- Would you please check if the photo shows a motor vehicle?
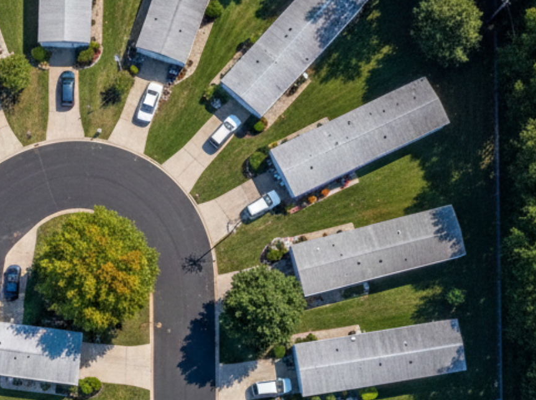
Yes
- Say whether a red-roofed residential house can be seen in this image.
No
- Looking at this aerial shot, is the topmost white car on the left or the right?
left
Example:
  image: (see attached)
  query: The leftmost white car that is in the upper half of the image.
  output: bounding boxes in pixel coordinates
[139,83,162,122]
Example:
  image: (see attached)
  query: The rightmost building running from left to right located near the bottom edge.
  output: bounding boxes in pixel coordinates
[292,318,466,398]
